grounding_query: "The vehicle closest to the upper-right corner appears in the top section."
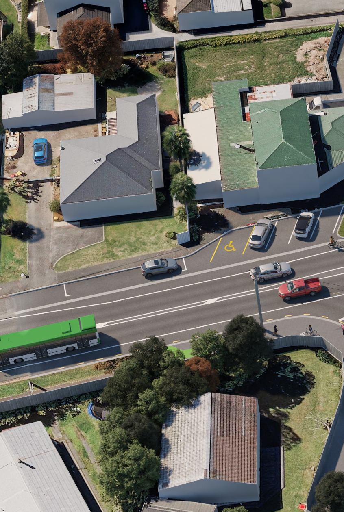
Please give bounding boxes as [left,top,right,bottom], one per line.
[308,92,344,111]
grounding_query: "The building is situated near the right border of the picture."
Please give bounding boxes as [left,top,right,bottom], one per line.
[213,77,344,206]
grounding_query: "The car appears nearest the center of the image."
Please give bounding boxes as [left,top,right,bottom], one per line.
[138,257,179,278]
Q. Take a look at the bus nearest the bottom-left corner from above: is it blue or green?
green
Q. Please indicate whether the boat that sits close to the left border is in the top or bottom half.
top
